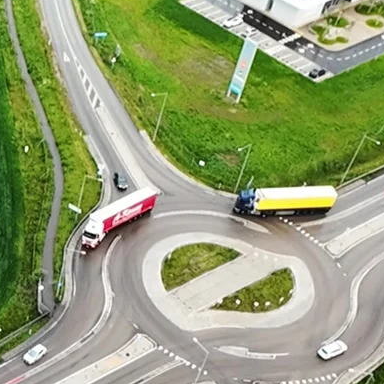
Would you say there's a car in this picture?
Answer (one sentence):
Yes, a car can be made out from above.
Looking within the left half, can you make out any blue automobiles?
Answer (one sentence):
No, no blue automobile appears within the left half.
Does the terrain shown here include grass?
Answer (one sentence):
Yes, some grass is visible.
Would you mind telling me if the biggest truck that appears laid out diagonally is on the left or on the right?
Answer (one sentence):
You can find the biggest truck that appears laid out diagonally on the left side of the picture.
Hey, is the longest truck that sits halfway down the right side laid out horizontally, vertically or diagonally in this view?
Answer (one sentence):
I'd say the longest truck that sits halfway down the right side is aligned horizontally in the picture.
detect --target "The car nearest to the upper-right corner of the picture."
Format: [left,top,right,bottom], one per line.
[308,67,327,79]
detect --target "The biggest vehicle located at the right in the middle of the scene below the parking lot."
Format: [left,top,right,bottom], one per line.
[230,185,340,220]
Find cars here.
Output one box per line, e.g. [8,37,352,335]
[242,24,262,37]
[308,67,327,79]
[20,342,51,365]
[224,16,243,27]
[113,172,129,189]
[317,339,351,357]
